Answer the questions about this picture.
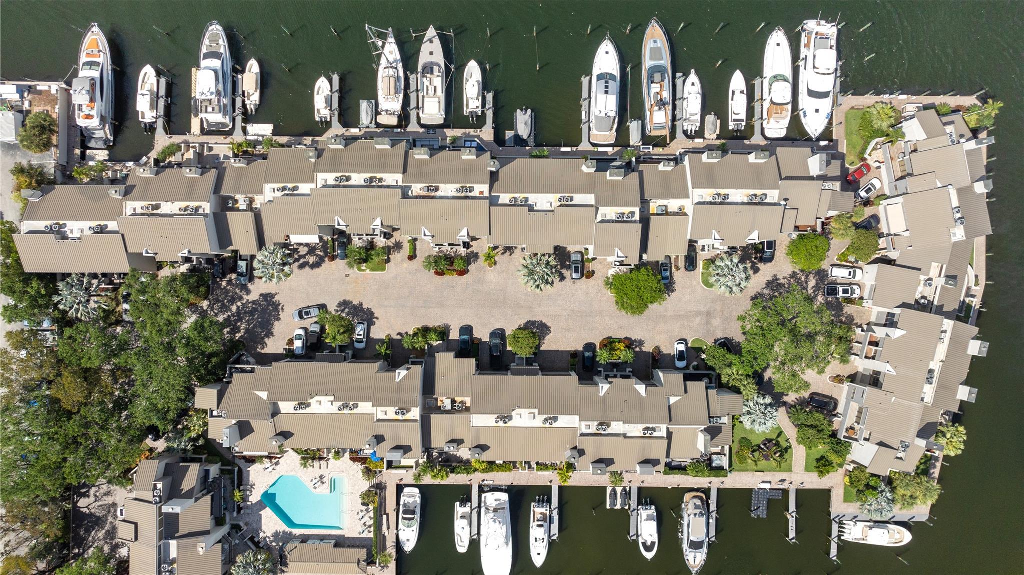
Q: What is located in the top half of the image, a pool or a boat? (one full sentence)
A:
Looking in the top half of the image, you will find a boat.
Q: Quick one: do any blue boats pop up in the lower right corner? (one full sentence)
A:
No, there's no blue boat to be seen in the lower right corner.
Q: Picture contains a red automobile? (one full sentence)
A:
Yes, there's a red automobile down there.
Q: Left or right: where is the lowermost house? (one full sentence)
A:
You can find the lowermost house on the left side of the picture.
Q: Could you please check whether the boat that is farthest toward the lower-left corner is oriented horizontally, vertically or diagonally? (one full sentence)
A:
The boat that is farthest toward the lower-left corner is laid out vertically.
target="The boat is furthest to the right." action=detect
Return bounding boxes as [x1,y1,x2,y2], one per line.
[838,522,910,547]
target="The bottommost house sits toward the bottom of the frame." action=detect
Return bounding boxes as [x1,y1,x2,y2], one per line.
[285,533,371,575]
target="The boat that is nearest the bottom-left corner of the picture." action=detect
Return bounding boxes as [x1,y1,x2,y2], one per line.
[399,486,422,555]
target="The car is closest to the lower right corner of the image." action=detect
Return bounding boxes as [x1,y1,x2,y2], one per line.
[807,394,837,410]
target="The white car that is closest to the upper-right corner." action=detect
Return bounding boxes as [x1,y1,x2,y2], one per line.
[855,177,883,202]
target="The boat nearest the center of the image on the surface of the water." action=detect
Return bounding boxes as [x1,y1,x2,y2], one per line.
[515,106,534,140]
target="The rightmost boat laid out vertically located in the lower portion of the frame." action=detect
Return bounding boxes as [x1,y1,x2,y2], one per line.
[682,490,708,575]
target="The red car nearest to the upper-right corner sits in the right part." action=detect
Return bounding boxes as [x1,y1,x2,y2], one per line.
[844,161,872,186]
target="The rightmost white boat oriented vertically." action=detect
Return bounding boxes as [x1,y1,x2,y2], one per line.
[798,4,843,139]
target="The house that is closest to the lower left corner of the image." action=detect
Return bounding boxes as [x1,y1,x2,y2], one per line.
[117,450,240,575]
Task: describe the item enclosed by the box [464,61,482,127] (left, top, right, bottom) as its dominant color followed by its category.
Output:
white boat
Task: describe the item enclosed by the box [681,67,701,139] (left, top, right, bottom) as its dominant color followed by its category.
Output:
white boat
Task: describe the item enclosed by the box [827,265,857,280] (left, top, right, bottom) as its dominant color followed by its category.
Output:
white car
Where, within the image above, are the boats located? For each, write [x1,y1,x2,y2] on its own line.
[681,67,701,139]
[316,77,332,132]
[515,106,534,140]
[798,4,843,139]
[682,490,708,575]
[838,522,910,547]
[194,19,233,132]
[479,489,512,575]
[399,486,422,555]
[760,25,793,140]
[464,61,482,127]
[455,490,472,551]
[640,16,673,149]
[638,493,657,559]
[727,71,746,140]
[589,32,620,146]
[530,491,550,567]
[57,20,117,147]
[629,121,642,148]
[703,114,718,139]
[363,28,404,128]
[246,59,263,116]
[141,66,160,133]
[361,100,375,130]
[418,25,446,124]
